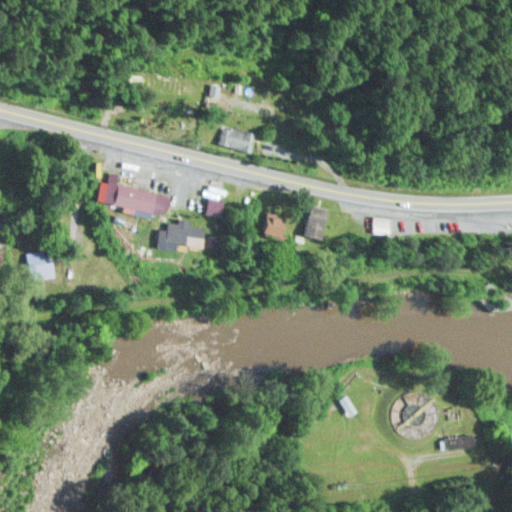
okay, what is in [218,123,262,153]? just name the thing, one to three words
house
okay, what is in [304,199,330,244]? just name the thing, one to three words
house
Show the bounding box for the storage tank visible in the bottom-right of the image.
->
[390,392,438,440]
